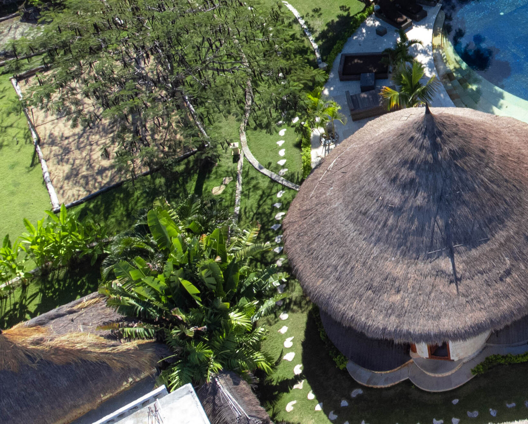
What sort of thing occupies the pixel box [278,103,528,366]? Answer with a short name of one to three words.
shed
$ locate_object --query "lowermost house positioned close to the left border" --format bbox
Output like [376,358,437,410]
[0,288,172,424]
